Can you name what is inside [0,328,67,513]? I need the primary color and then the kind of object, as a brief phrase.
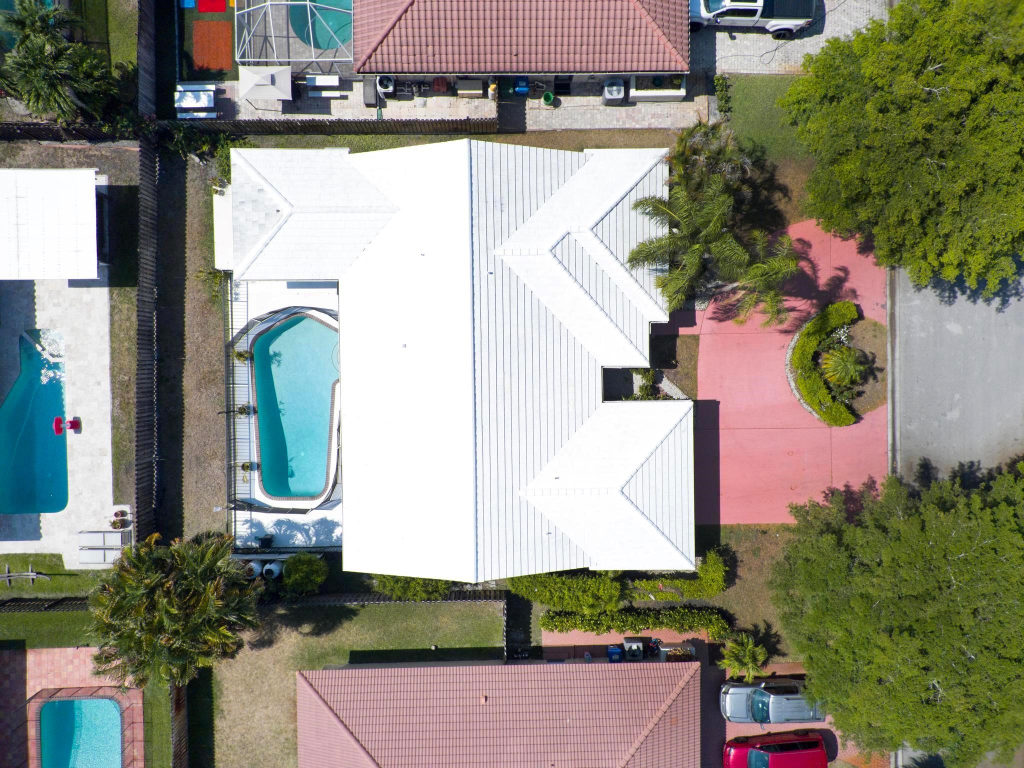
blue swimming pool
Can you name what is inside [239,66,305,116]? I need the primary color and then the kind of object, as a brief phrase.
white tent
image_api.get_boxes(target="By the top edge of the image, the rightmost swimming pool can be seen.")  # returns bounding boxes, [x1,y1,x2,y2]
[285,0,352,52]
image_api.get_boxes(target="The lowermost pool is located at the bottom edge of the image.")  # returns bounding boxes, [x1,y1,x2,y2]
[34,694,126,768]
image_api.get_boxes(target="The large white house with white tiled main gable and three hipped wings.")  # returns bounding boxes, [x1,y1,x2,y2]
[227,137,698,584]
